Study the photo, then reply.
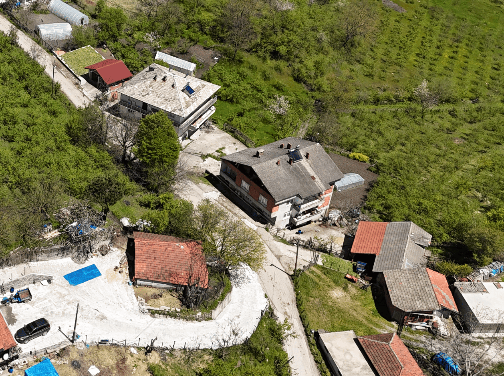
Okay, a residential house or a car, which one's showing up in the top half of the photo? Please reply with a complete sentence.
It is a residential house that can be seen in the top half of the photo.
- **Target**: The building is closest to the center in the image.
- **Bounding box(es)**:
[223,135,343,238]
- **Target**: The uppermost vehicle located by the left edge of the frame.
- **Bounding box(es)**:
[0,285,33,306]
